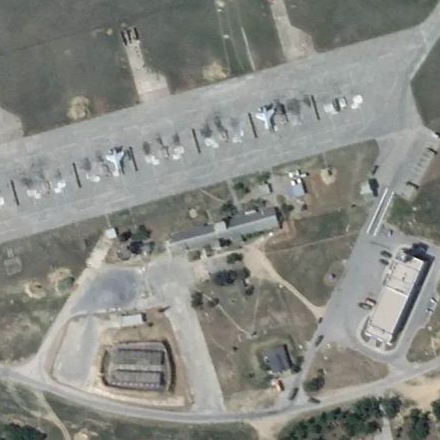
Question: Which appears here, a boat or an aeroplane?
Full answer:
Visible in the photo is an aeroplane.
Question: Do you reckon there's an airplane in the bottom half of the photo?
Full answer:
No, in the bottom half of the photo there is no airplane.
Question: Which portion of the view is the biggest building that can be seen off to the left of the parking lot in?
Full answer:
The biggest building that can be seen off to the left of the parking lot appears toward the center of the photo.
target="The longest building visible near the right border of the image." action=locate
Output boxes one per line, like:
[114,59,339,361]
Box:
[367,249,424,340]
